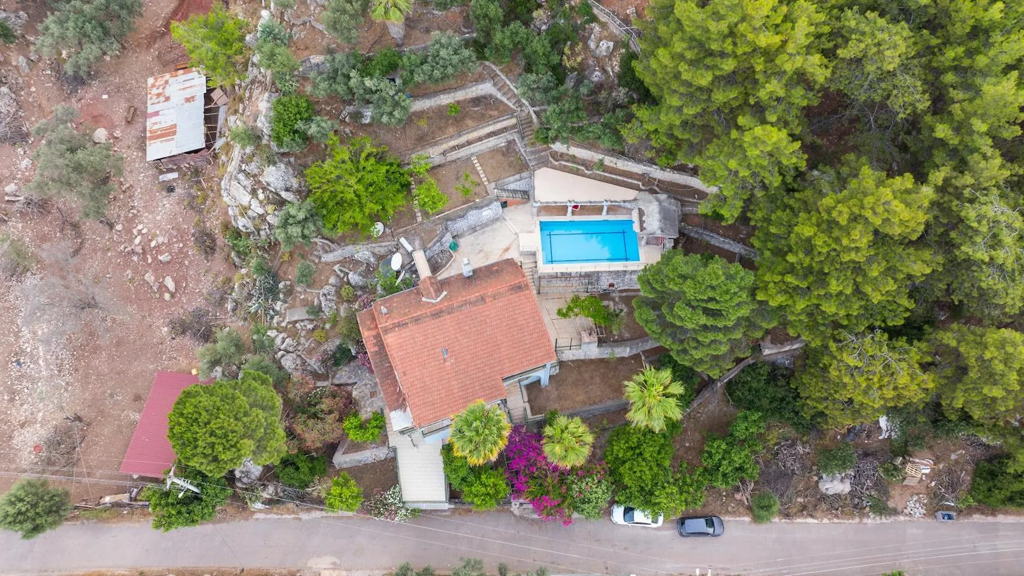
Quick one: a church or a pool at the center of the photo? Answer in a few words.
pool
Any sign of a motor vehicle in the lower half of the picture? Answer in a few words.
Yes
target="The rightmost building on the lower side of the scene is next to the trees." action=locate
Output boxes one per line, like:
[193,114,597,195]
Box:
[359,257,555,450]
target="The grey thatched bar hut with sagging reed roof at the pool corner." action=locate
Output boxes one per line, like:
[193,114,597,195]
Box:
[639,195,684,254]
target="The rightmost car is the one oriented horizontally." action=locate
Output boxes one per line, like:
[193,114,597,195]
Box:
[676,514,724,538]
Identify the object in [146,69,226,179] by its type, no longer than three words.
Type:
shed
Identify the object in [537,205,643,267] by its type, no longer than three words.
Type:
swimming pool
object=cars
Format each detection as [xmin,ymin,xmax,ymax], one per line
[611,503,662,528]
[676,514,724,538]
